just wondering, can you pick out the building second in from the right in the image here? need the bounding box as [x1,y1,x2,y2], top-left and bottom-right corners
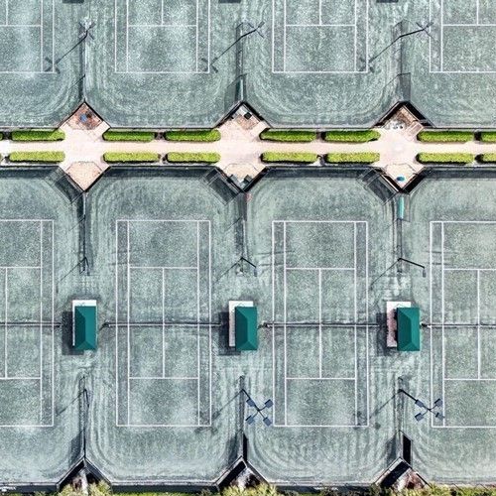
[230,302,256,351]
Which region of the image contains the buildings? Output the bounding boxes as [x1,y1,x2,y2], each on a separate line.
[388,302,418,351]
[73,302,96,351]
[230,302,256,351]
